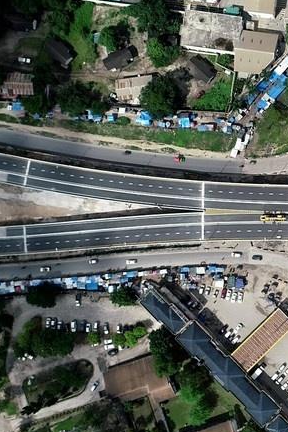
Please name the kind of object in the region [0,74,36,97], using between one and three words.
house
